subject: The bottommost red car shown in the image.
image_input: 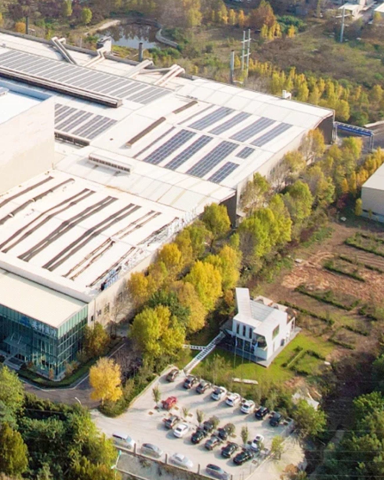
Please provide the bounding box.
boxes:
[158,395,177,410]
